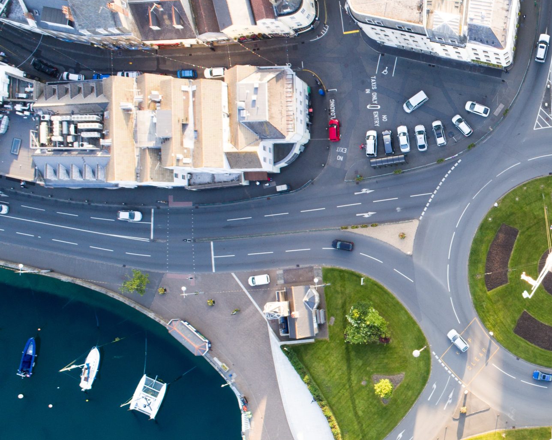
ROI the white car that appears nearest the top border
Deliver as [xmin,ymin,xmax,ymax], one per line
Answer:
[535,35,549,63]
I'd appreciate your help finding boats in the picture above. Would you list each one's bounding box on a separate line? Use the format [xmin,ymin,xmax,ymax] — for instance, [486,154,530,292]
[16,338,34,378]
[62,348,99,391]
[122,375,167,420]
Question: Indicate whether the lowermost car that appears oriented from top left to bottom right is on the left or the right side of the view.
right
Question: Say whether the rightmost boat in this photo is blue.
No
